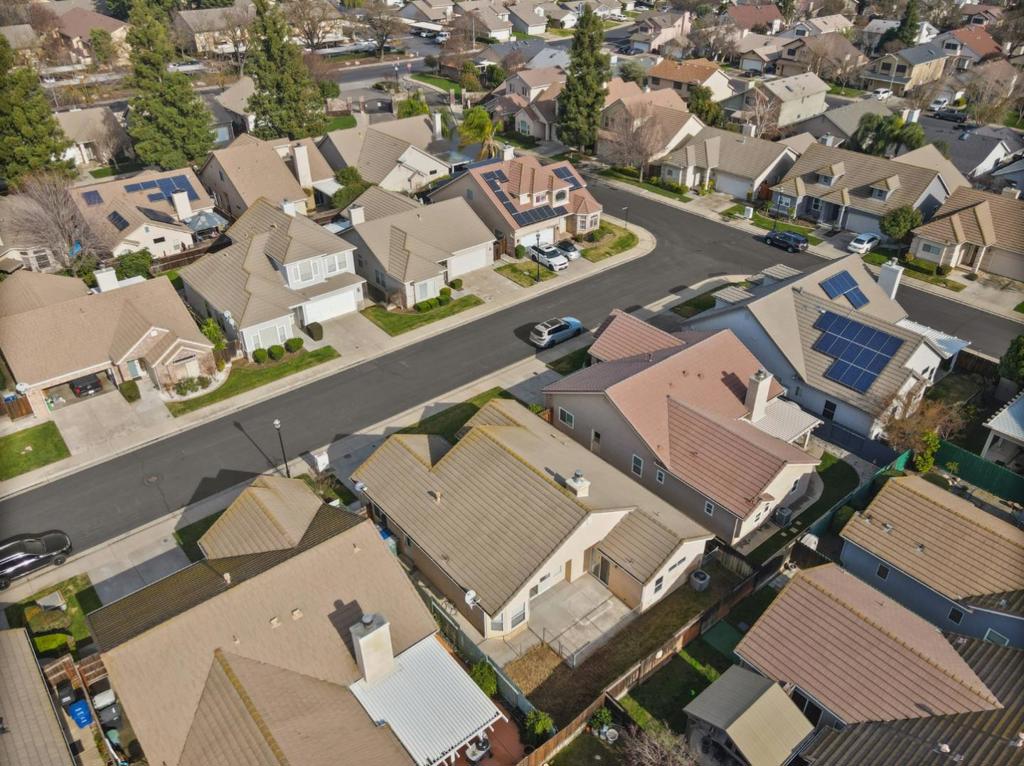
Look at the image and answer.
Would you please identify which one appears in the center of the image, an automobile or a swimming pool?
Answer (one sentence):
What appears in the center of the image is an automobile.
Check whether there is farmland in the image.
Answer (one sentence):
No, the picture contains no farmland.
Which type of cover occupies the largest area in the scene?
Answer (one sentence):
What you mostly see from above here is buildings.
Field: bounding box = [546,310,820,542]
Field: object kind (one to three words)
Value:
house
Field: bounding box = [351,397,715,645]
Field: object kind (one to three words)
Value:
house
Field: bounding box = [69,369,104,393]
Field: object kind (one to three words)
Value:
car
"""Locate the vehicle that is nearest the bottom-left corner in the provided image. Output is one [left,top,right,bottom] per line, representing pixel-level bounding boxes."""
[0,529,75,586]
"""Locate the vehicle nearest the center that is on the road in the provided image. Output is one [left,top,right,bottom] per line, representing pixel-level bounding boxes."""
[530,317,584,348]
